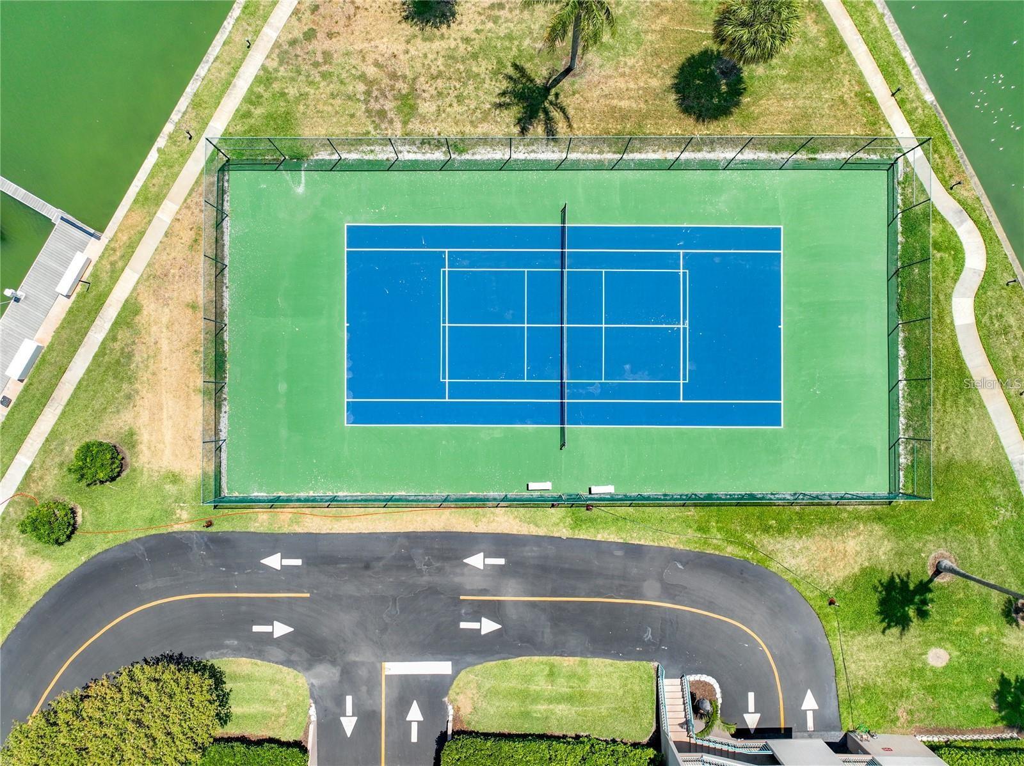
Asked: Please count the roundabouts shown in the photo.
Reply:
0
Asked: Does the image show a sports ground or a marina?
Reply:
sports ground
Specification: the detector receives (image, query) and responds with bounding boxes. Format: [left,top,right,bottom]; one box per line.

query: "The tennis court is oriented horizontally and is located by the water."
[226,157,899,494]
